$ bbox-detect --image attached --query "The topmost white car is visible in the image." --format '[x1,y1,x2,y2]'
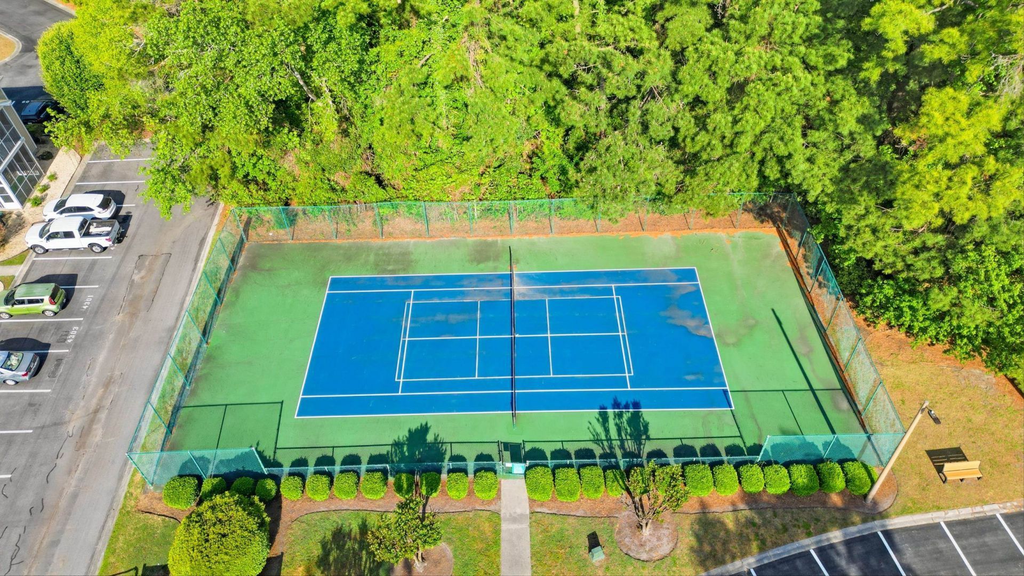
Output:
[37,194,112,223]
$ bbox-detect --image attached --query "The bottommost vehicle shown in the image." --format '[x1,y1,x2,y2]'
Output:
[0,350,40,386]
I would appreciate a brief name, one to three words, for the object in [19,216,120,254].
truck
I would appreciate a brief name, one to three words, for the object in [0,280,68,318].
car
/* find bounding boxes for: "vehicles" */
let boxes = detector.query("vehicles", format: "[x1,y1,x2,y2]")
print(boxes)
[19,216,120,254]
[37,194,112,223]
[0,280,68,318]
[19,97,58,130]
[0,350,40,386]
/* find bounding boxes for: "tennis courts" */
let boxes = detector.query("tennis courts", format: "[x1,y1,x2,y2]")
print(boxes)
[152,232,881,485]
